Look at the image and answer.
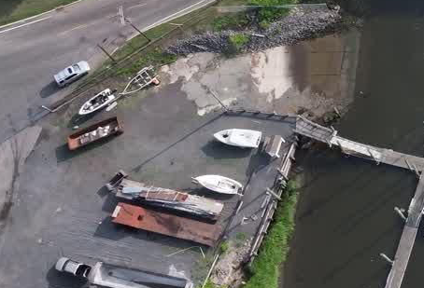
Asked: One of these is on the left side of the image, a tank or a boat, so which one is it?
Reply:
boat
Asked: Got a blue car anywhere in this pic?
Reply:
No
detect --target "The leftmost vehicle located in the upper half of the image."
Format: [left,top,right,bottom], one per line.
[50,62,89,89]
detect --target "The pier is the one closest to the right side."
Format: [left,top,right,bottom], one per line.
[290,113,424,288]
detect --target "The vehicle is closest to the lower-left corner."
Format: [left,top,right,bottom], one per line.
[49,259,90,285]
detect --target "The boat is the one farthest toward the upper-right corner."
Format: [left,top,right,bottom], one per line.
[214,128,264,150]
